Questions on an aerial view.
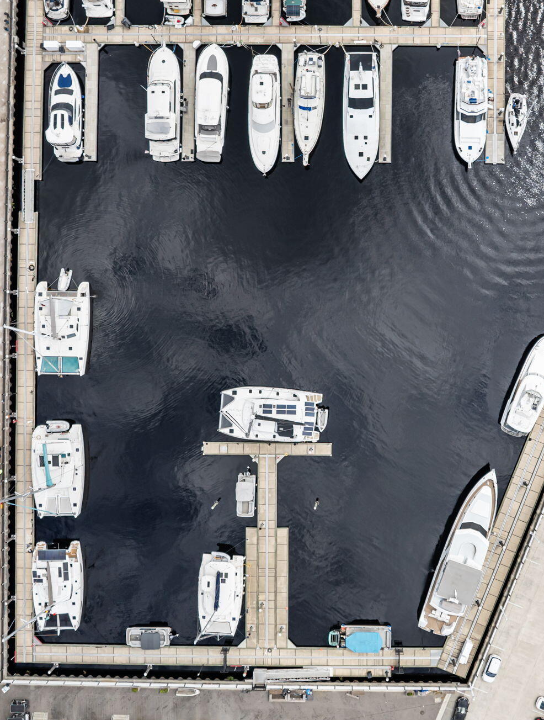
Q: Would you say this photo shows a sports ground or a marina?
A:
marina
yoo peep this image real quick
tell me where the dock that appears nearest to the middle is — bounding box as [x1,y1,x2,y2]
[203,441,332,456]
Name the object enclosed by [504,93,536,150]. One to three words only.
boat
